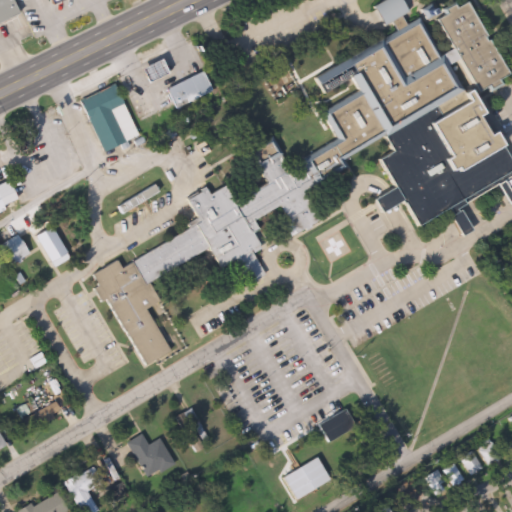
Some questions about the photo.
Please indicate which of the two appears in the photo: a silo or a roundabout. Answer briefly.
roundabout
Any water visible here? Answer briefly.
No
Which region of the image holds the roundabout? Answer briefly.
center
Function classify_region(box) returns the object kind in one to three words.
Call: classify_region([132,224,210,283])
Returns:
building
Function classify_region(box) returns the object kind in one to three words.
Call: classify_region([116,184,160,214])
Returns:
building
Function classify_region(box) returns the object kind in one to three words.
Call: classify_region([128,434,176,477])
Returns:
house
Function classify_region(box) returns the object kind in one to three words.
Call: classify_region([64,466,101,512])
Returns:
house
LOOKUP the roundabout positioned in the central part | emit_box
[240,238,330,314]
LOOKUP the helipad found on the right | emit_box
[316,229,352,262]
